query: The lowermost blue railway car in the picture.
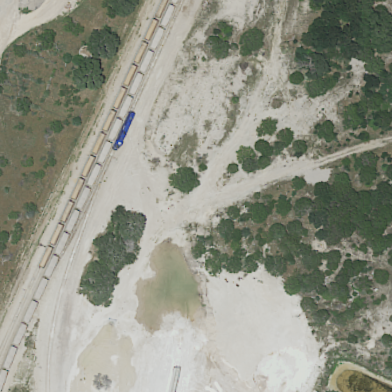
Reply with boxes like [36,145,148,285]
[113,131,126,150]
